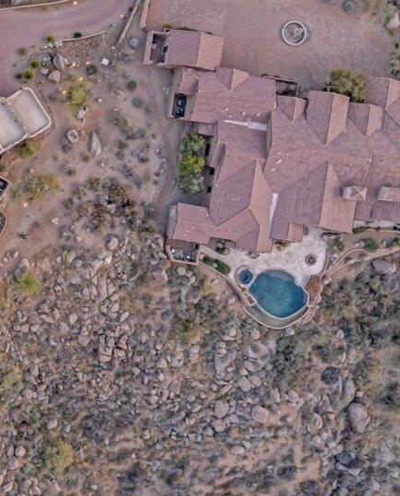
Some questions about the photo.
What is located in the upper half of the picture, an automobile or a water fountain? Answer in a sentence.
Visible in the upper half of the picture is a water fountain.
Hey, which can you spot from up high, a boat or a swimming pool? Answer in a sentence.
Looking from above, you can make out a swimming pool.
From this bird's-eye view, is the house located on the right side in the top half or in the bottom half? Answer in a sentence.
The house located on the right side is in the top half of the image.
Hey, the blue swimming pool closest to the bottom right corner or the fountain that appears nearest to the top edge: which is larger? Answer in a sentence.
The larger object is the swimming pool, with the fountain being the smaller of the pair.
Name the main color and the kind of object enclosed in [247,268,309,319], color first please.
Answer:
blue swimming pool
